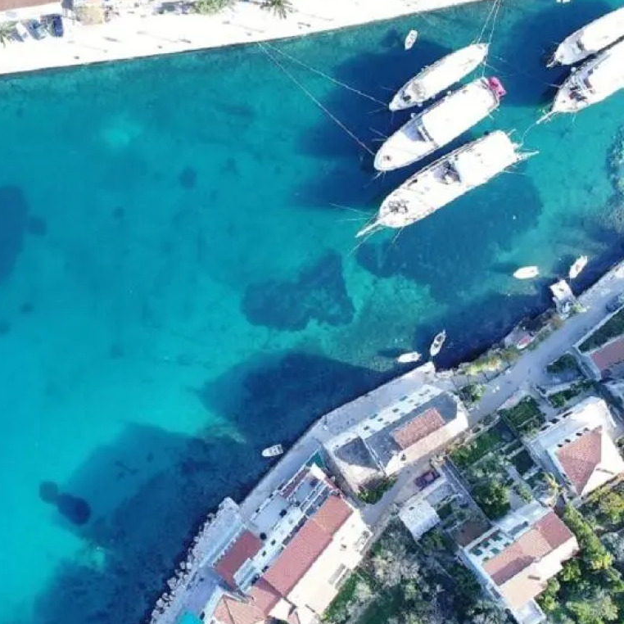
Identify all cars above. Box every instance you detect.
[52,12,63,37]
[604,291,624,309]
[30,16,47,41]
[13,21,31,43]
[416,467,439,488]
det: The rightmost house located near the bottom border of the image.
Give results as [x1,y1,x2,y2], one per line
[457,497,585,624]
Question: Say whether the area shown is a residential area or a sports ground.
residential area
